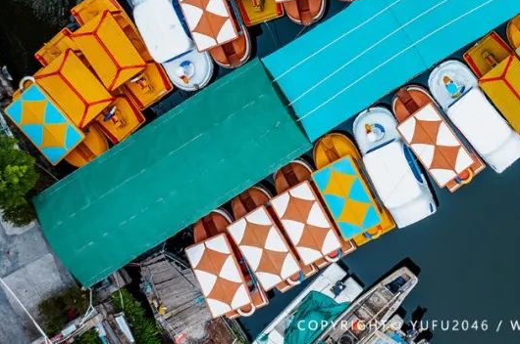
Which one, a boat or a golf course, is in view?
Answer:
boat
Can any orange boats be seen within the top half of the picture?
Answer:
Yes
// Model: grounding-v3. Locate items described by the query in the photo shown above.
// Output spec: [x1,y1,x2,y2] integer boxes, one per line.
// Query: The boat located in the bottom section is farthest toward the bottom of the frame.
[363,311,409,344]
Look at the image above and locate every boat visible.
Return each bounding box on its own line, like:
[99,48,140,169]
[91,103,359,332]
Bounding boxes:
[464,33,520,131]
[312,131,396,245]
[273,159,361,274]
[32,27,148,143]
[1,62,112,165]
[238,0,284,43]
[431,57,520,171]
[393,85,487,192]
[355,105,435,227]
[272,0,324,27]
[172,0,244,71]
[363,311,409,344]
[131,0,213,99]
[246,263,366,344]
[231,185,320,295]
[65,0,174,117]
[322,269,417,344]
[187,208,271,322]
